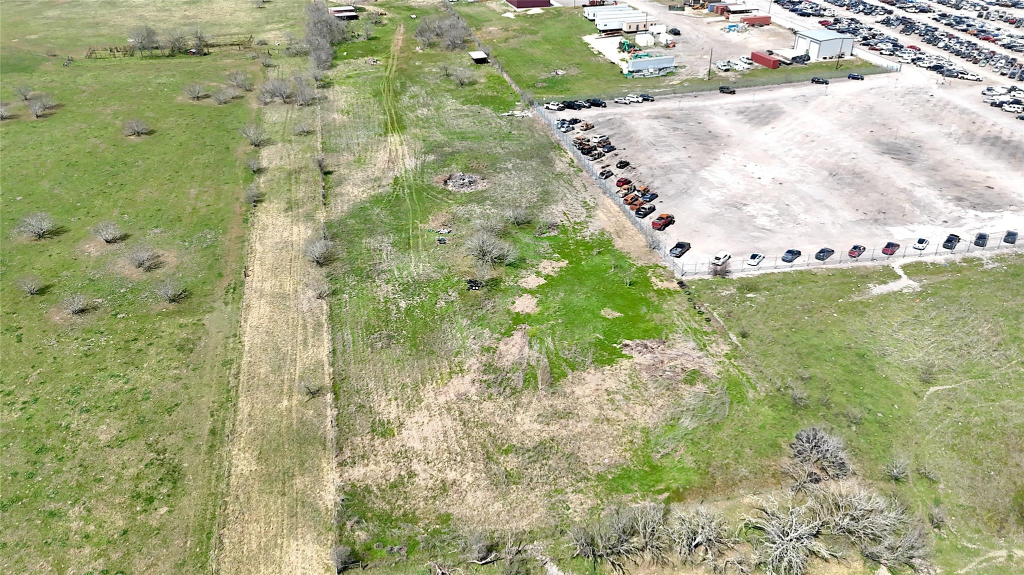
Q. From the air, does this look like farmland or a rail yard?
farmland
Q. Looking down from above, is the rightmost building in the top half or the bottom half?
top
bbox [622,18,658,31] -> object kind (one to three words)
building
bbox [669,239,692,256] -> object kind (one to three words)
vehicle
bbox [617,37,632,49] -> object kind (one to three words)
vehicle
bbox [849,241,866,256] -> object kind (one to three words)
car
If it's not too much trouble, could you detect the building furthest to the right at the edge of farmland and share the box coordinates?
[796,26,859,58]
